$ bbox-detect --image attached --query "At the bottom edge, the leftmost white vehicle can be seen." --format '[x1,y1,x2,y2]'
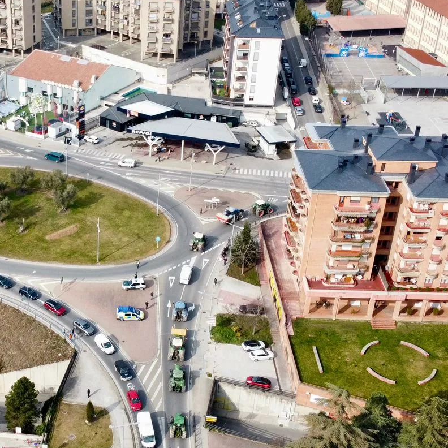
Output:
[139,408,156,446]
